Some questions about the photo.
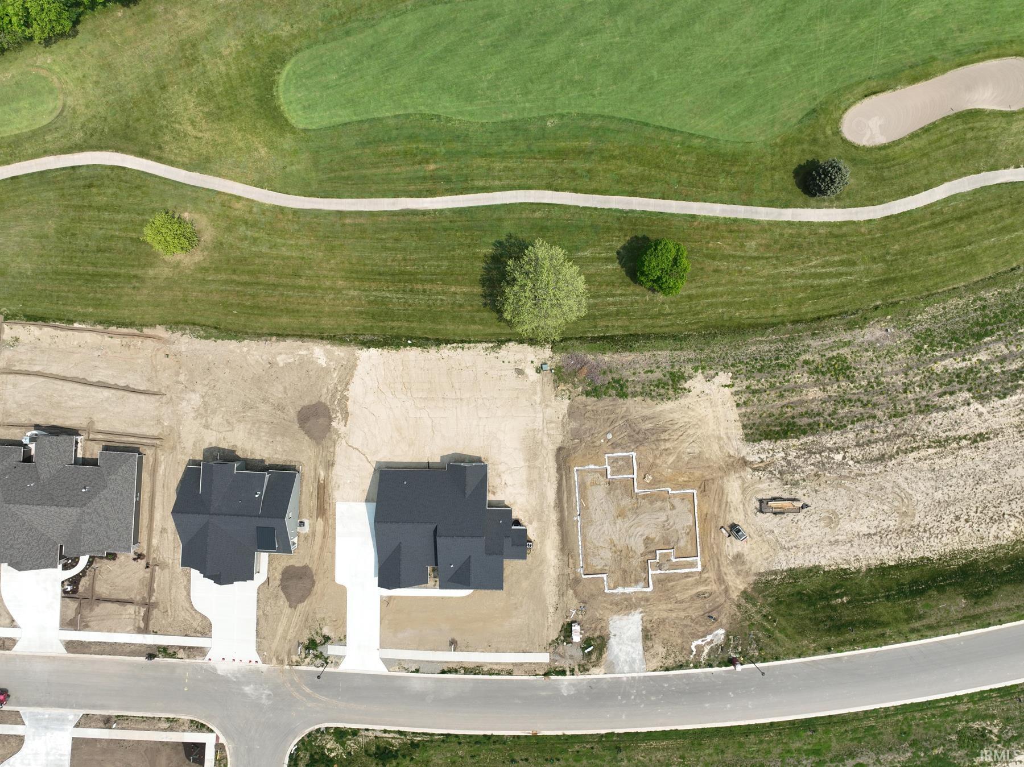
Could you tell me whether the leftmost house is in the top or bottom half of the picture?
bottom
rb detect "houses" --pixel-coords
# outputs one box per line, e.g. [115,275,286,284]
[375,464,527,590]
[171,461,300,586]
[0,435,141,573]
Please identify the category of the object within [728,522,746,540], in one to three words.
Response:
work vehicle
